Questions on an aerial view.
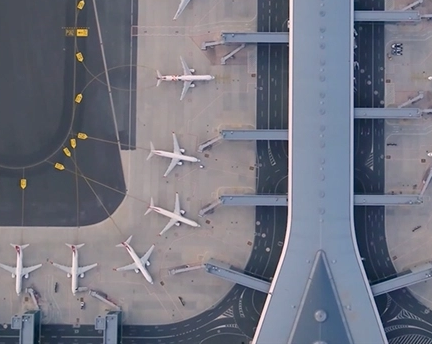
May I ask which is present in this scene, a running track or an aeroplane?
aeroplane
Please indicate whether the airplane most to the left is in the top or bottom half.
bottom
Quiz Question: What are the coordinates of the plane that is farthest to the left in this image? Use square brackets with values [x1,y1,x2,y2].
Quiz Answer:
[0,244,41,296]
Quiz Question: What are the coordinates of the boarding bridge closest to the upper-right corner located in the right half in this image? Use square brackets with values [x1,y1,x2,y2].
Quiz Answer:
[354,0,432,24]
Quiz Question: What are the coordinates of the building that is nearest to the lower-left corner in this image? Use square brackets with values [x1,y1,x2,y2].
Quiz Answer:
[10,308,43,344]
